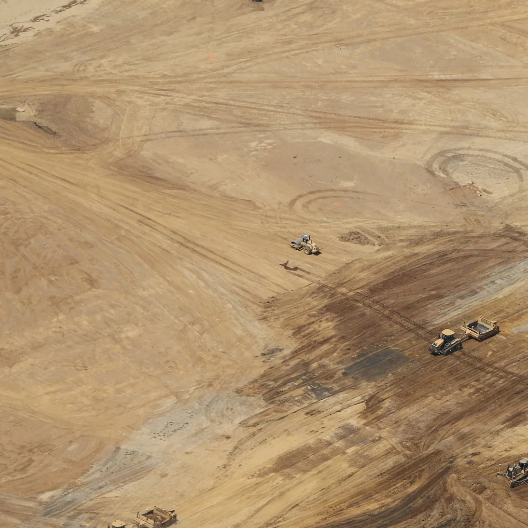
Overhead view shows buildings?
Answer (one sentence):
No, I can't see a single building in this photo.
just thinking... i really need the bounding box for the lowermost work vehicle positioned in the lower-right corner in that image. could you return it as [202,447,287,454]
[497,457,528,489]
